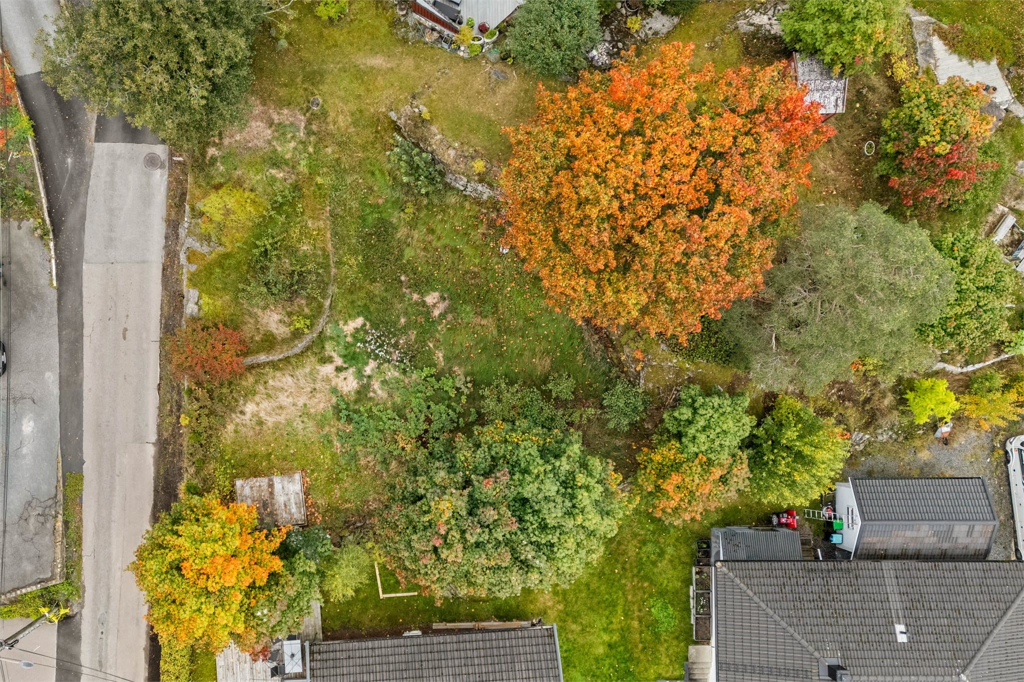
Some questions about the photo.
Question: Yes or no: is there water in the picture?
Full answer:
No, there's no water in this view.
